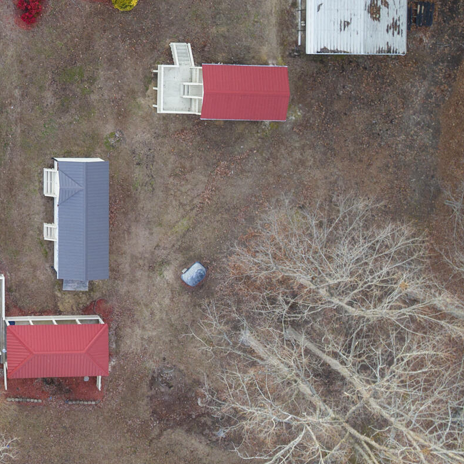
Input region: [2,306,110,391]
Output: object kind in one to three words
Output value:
building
